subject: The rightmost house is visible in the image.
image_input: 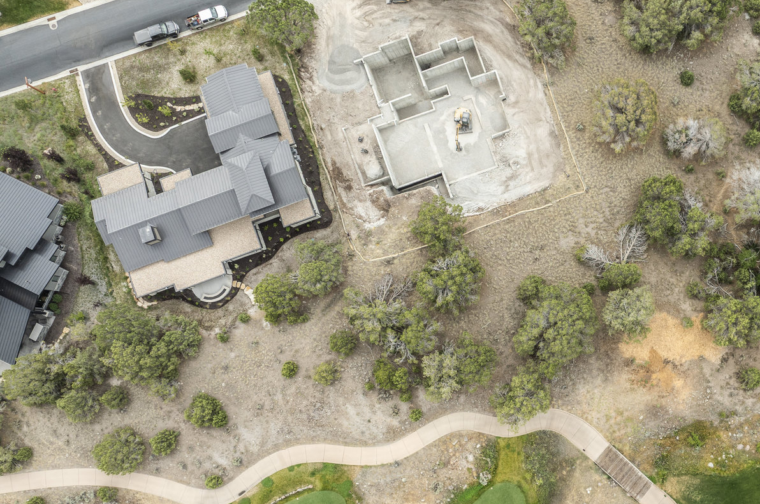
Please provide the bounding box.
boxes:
[91,64,325,298]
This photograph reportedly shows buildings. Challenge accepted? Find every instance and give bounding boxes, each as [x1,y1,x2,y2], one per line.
[91,64,325,298]
[0,172,83,365]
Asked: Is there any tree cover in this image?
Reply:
Yes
